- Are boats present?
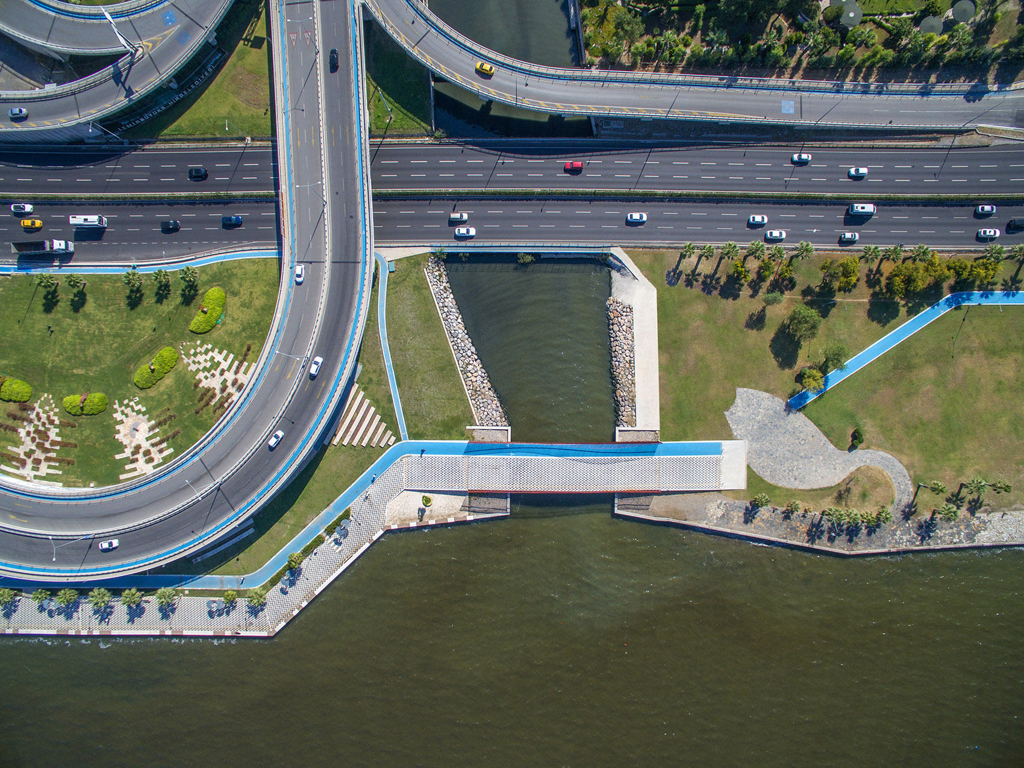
No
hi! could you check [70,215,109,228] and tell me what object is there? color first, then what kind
white vehicle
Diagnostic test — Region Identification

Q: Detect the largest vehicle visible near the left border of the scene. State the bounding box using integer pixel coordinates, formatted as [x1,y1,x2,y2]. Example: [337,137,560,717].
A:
[11,240,76,254]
